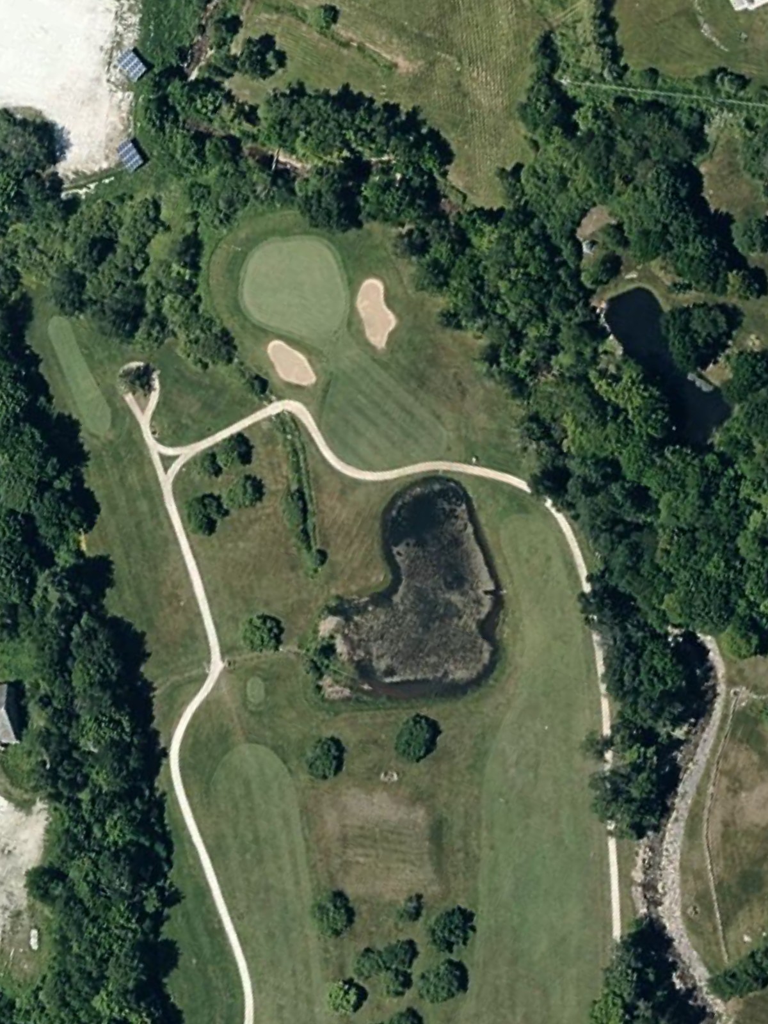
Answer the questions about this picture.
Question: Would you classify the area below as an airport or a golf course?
golf course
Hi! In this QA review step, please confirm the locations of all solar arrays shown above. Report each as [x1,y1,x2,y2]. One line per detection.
[118,48,149,81]
[117,140,145,171]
